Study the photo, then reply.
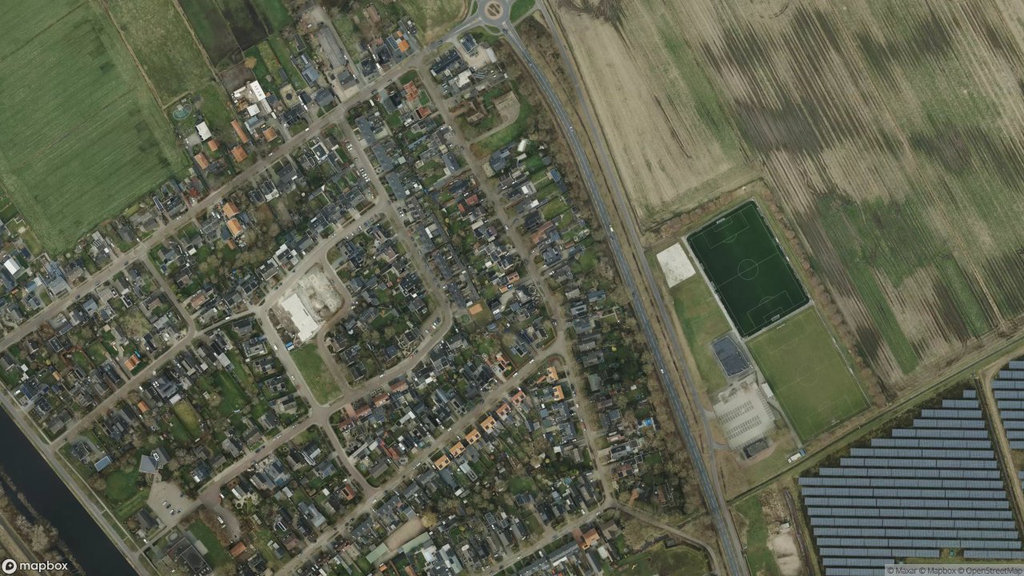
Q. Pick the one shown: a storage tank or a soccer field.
soccer field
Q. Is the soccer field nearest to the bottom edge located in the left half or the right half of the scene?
right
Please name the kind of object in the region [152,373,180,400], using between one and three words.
house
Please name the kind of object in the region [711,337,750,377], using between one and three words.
sports court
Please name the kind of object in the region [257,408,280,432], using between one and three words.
house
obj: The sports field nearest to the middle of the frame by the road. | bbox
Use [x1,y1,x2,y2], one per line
[656,243,695,288]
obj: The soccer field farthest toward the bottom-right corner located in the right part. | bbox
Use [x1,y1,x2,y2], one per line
[749,308,867,440]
